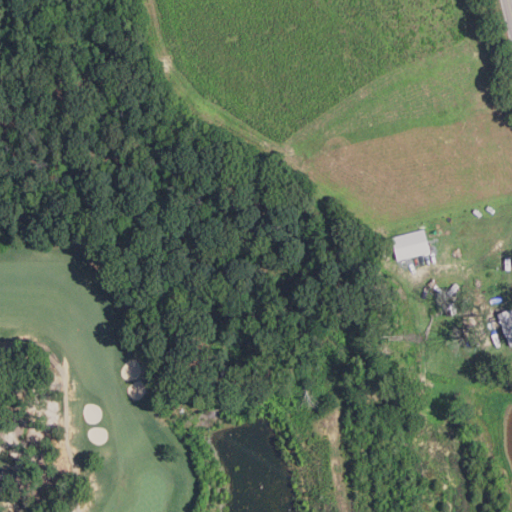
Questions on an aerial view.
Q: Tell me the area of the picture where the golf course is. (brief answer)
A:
bottom left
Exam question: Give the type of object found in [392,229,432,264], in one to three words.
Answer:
barn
